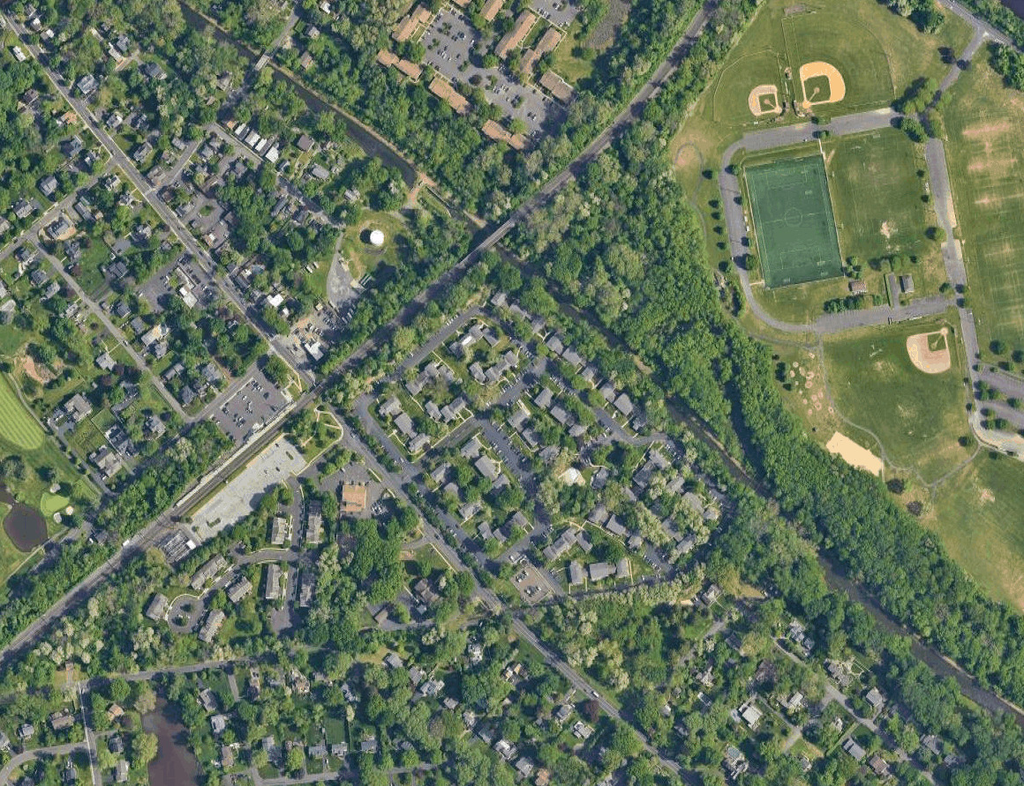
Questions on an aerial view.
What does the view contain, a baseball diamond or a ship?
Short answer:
baseball diamond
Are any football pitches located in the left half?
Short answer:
No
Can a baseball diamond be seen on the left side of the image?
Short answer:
No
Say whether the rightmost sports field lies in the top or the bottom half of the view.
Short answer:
top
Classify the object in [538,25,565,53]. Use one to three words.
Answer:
building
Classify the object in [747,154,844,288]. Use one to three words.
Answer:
soccer field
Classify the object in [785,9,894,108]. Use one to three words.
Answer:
baseball field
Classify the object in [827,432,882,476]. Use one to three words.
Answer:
sports court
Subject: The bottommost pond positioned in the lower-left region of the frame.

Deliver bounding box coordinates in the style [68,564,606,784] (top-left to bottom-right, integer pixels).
[142,704,201,786]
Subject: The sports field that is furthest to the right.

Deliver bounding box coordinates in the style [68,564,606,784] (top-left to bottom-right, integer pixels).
[956,92,1024,347]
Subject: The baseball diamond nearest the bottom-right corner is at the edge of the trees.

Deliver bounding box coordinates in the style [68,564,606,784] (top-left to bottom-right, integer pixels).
[823,327,954,460]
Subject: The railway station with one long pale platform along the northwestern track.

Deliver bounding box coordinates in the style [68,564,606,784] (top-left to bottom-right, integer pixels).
[175,401,295,505]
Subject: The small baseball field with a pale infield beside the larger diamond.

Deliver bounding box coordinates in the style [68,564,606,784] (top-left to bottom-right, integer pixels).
[712,50,782,121]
